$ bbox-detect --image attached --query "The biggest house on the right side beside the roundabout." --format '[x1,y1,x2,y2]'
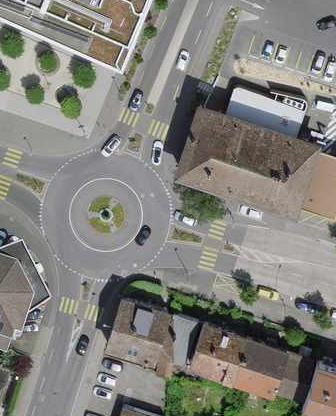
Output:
[172,102,320,222]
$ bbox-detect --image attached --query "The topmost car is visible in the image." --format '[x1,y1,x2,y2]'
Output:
[316,16,336,30]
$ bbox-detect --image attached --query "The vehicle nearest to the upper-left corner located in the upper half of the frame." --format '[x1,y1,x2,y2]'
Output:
[128,88,143,110]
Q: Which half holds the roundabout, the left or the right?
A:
left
